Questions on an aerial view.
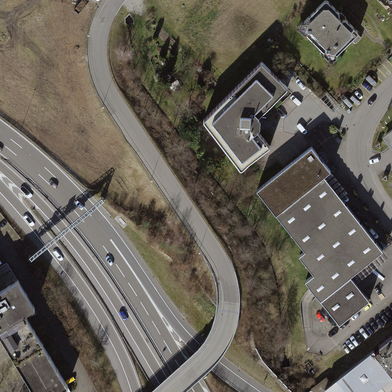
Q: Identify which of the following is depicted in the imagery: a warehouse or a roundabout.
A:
warehouse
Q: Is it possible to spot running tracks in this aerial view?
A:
No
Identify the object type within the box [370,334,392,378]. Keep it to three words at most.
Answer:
building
